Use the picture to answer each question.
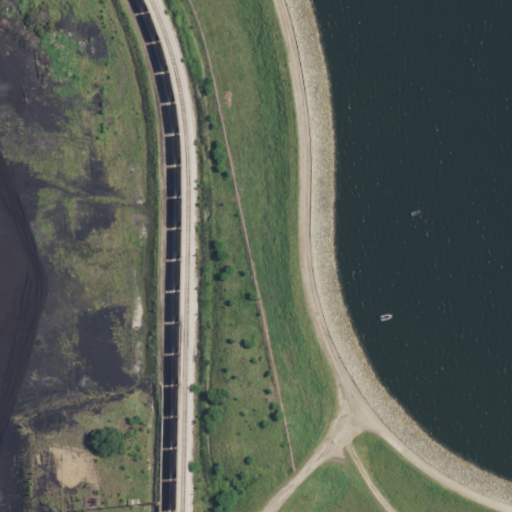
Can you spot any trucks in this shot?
No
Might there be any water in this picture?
Yes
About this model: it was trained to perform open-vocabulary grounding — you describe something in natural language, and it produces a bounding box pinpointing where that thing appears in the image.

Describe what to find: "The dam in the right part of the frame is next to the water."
[226,0,512,512]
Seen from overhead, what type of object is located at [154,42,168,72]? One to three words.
rail car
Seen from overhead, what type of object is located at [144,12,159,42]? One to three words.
rail car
